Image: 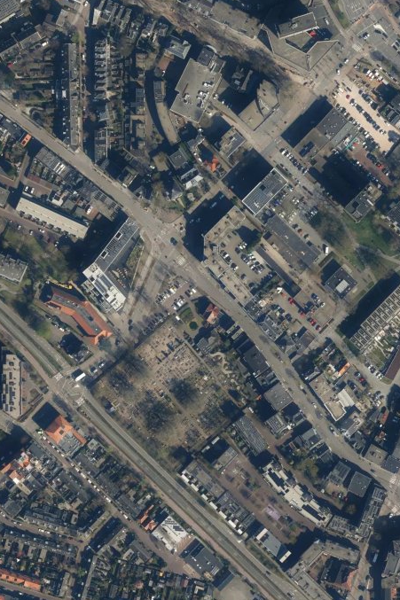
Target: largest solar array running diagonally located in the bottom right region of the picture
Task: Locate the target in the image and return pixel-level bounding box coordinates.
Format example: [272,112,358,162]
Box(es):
[269,464,328,526]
